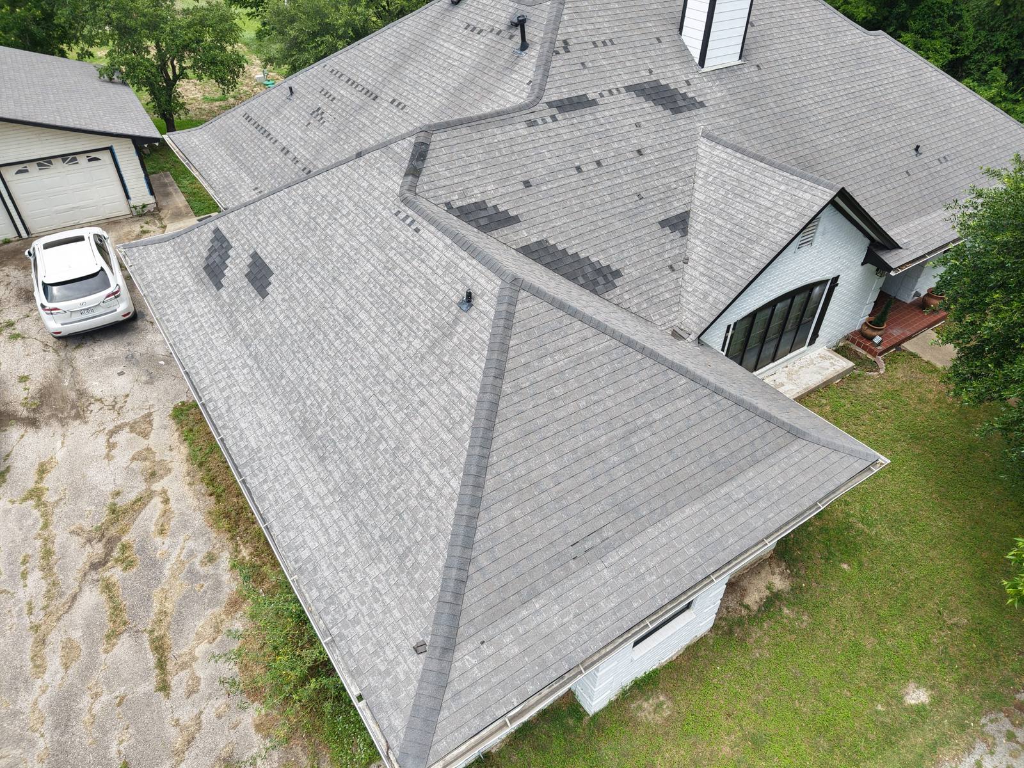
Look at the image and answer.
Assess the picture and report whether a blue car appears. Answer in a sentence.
No, there's no blue car here.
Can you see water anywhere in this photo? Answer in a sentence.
No, water can't be seen anywhere here.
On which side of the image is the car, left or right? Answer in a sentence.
The car sits on the left side.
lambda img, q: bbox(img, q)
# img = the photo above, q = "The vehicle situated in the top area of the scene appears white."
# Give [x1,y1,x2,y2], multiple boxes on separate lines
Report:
[27,216,138,337]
